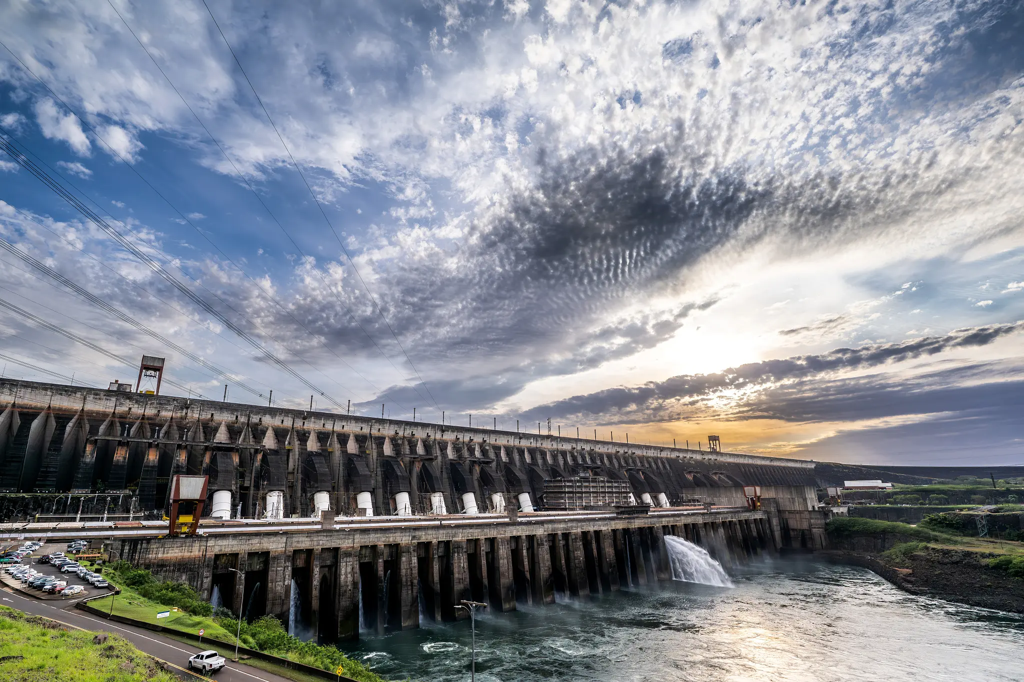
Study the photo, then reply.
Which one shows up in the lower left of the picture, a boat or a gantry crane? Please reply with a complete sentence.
Looking in the lower left of the picture, you will find a gantry crane.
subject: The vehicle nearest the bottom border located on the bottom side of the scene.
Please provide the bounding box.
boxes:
[191,652,225,675]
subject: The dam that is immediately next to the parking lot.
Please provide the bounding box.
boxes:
[0,378,835,518]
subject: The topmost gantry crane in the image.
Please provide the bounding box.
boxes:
[136,354,168,394]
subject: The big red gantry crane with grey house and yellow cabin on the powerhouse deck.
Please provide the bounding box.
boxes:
[157,474,212,533]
